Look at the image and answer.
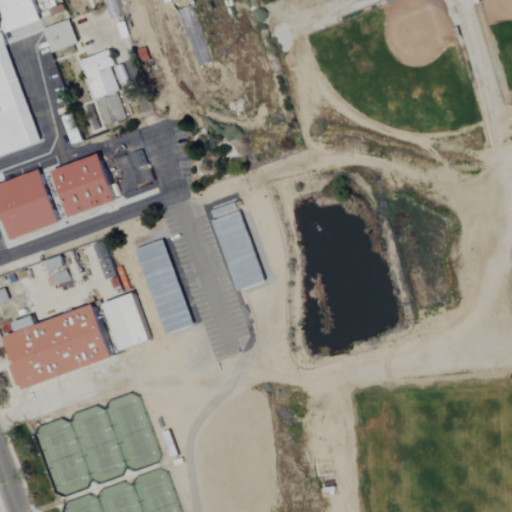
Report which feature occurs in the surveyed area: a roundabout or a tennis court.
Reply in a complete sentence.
Visible in the photo is a tennis court.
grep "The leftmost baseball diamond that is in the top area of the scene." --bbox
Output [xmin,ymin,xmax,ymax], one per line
[309,0,481,132]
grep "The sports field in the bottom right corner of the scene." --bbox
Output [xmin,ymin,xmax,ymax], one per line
[357,386,512,512]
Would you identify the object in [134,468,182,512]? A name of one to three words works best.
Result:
tennis court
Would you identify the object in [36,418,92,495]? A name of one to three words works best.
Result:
tennis court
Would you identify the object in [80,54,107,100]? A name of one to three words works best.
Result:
house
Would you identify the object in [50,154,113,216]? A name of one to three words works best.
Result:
building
